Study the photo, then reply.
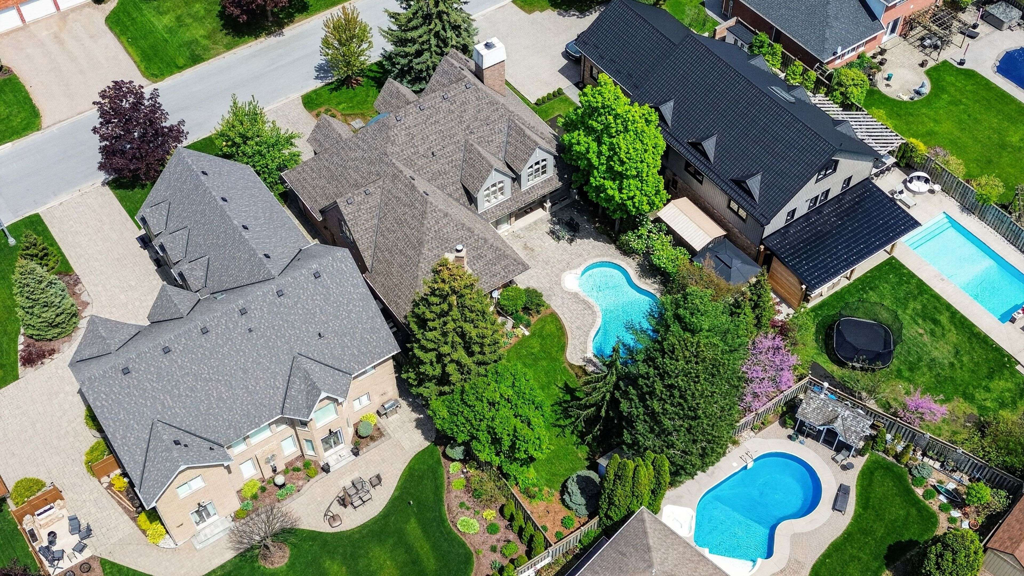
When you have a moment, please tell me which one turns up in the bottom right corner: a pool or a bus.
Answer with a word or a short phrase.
pool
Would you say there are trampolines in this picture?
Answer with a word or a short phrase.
Yes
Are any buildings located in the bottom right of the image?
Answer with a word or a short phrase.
Yes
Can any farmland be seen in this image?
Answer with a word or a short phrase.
No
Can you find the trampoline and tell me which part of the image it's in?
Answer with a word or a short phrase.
right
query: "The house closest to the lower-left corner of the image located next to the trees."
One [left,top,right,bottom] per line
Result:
[65,146,401,549]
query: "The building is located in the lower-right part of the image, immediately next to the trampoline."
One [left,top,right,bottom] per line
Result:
[794,378,877,460]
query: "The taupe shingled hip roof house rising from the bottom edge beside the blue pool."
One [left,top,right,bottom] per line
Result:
[565,507,732,576]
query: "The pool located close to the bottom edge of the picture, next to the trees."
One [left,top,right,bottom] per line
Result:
[692,450,824,576]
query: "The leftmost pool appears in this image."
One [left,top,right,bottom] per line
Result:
[558,257,671,367]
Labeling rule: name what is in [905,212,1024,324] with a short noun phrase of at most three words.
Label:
swimming pool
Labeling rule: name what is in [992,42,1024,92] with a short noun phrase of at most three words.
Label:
swimming pool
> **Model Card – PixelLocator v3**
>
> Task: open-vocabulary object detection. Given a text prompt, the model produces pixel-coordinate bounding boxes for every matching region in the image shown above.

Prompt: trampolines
[835,293,902,372]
